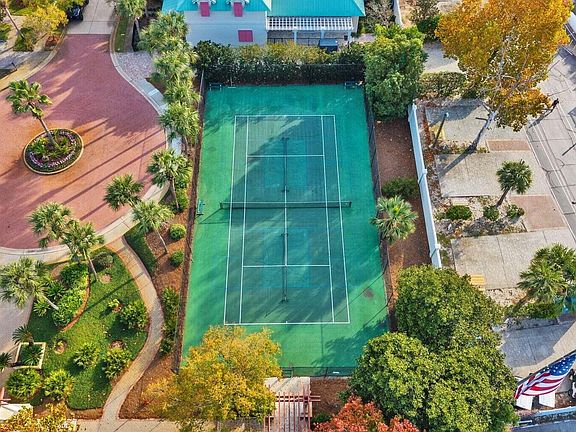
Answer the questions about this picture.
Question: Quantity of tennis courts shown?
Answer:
one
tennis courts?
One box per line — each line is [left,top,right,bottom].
[181,84,393,374]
